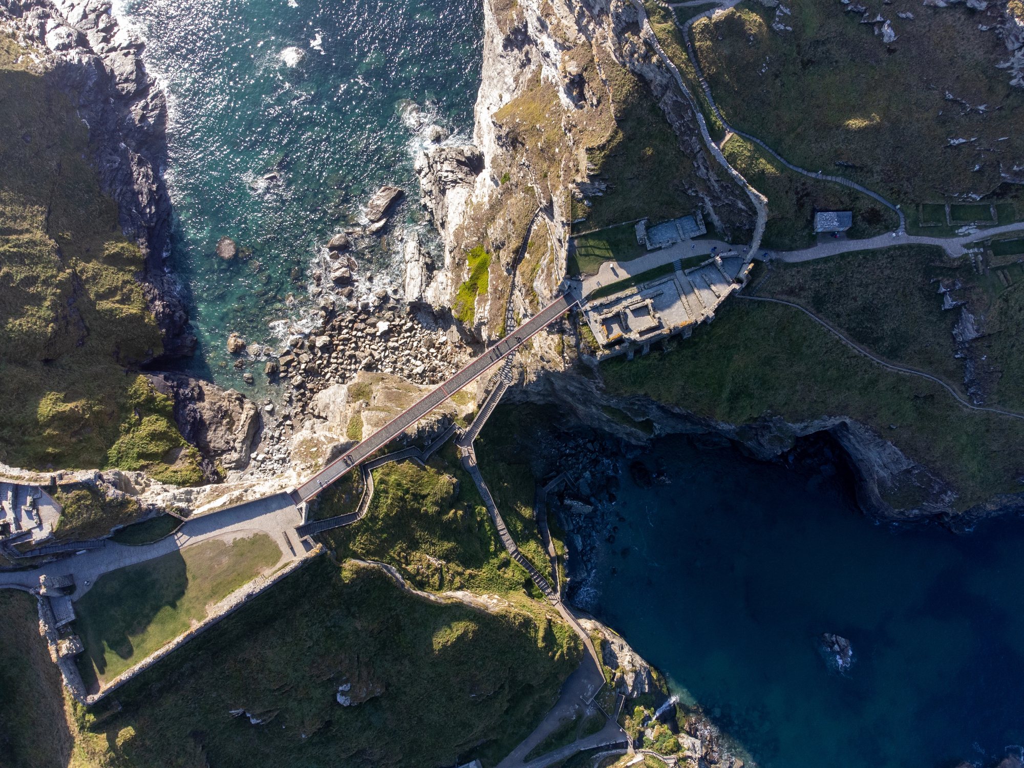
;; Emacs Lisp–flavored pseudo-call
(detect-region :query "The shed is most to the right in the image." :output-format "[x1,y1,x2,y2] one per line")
[813,211,853,231]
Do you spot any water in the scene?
Yes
